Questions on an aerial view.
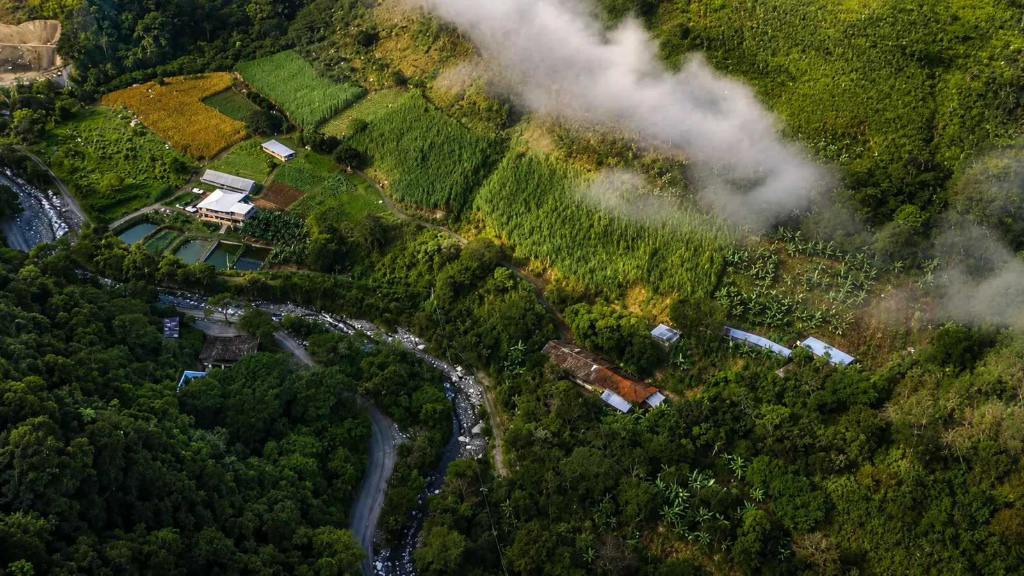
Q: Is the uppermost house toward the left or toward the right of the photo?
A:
left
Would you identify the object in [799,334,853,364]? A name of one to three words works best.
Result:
shed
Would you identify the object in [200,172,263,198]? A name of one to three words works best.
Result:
shed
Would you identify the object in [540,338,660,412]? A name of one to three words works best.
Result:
house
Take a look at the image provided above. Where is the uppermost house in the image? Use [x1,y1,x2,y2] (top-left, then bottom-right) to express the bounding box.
[260,140,299,163]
